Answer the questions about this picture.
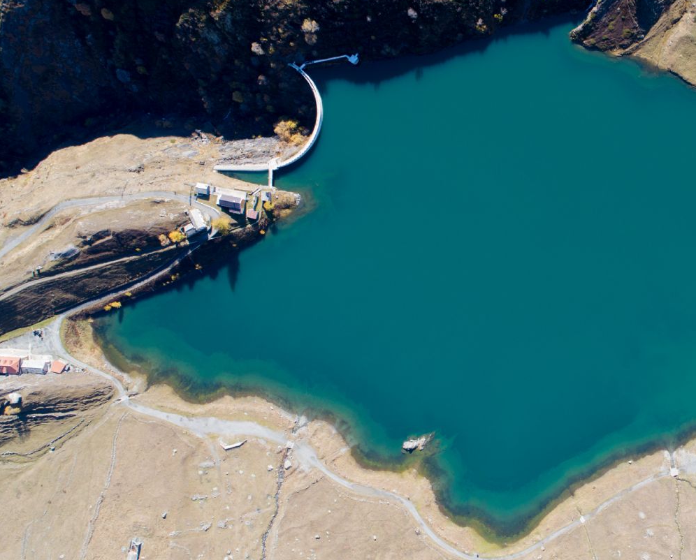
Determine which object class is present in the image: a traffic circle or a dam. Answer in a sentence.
It is a dam that can be seen here.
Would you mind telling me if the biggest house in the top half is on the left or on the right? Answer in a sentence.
The biggest house in the top half sits on the left side.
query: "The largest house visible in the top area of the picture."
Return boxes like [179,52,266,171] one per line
[217,189,253,211]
